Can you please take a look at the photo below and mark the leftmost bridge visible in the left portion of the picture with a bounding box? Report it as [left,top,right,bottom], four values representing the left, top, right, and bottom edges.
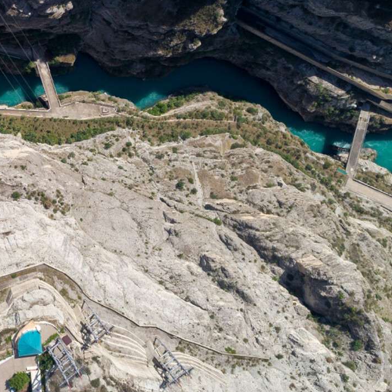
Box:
[37,62,62,108]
